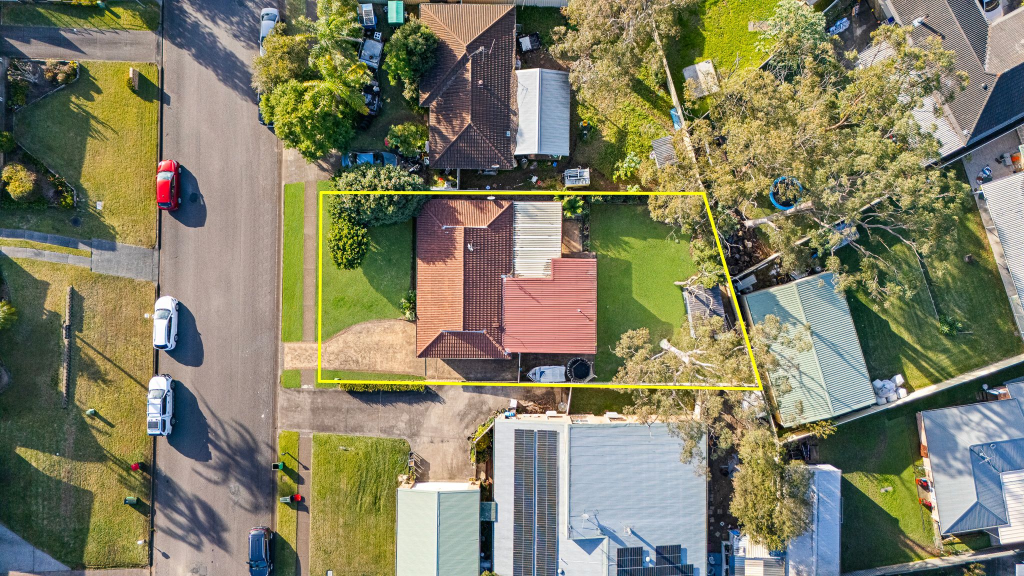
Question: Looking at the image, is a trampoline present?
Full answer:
Yes, you can see a trampoline in this photo.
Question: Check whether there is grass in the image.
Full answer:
Yes, grass shows up in the scene.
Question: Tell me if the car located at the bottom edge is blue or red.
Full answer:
The car located at the bottom edge looks blue in the image.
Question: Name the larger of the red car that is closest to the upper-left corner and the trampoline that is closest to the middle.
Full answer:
The car takes up more space than the trampoline does.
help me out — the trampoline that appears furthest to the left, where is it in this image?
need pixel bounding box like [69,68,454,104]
[565,355,596,383]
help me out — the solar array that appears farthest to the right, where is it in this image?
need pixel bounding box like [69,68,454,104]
[618,546,694,576]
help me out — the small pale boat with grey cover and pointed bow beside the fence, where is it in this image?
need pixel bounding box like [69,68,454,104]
[529,364,567,384]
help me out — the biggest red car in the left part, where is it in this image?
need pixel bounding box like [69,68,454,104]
[153,159,182,209]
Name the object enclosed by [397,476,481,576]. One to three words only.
building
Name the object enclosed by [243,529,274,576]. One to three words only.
car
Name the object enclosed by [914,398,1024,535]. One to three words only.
house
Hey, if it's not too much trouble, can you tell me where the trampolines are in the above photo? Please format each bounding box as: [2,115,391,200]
[770,178,801,208]
[565,355,596,383]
